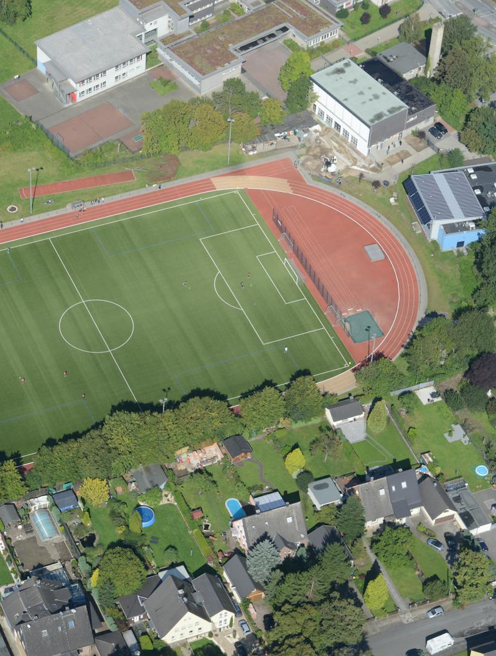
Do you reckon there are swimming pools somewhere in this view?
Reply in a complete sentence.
Yes, there's a swimming pool down there.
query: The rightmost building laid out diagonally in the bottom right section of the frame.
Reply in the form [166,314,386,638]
[443,477,493,538]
